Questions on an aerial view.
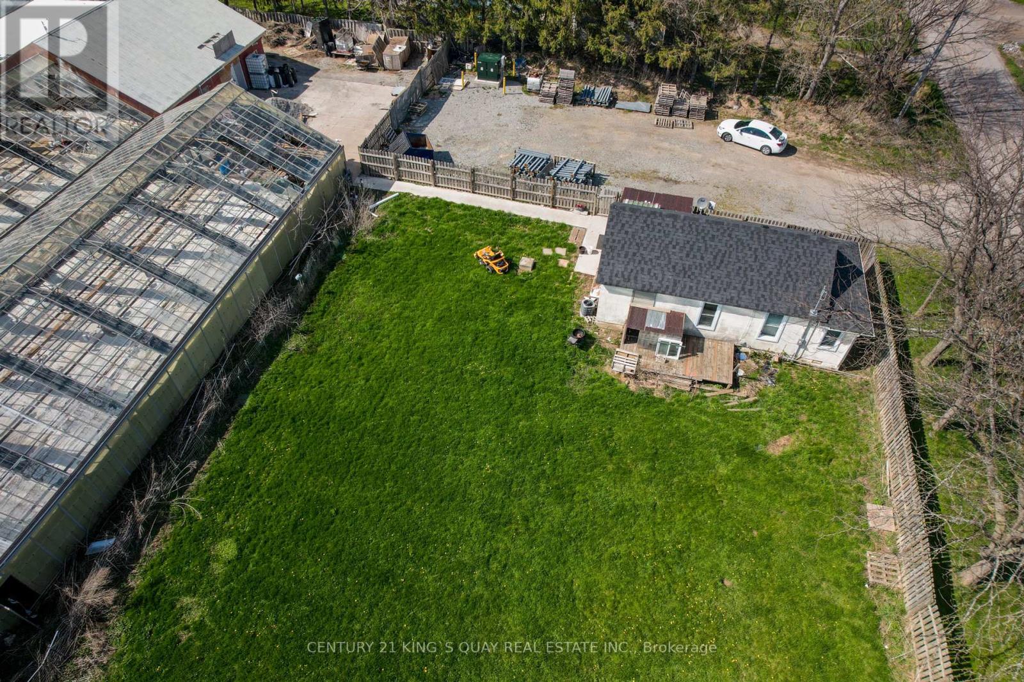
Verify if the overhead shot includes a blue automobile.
No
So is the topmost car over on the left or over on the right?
right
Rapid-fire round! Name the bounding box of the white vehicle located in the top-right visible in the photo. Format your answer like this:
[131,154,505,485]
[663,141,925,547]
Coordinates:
[715,120,793,158]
